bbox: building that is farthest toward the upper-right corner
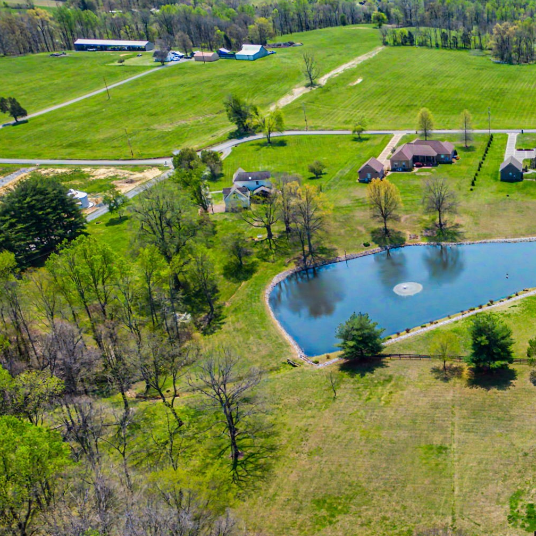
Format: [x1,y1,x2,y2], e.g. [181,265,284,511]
[498,153,525,181]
